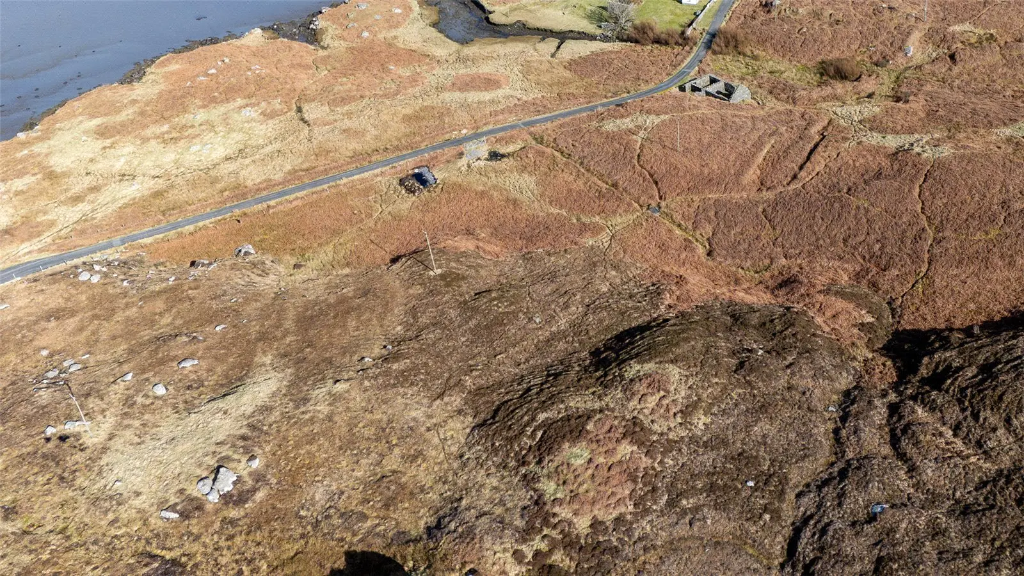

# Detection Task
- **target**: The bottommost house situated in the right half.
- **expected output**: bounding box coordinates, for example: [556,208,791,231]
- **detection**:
[679,75,751,106]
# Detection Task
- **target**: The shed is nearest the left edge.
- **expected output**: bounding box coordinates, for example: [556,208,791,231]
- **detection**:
[403,164,439,194]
